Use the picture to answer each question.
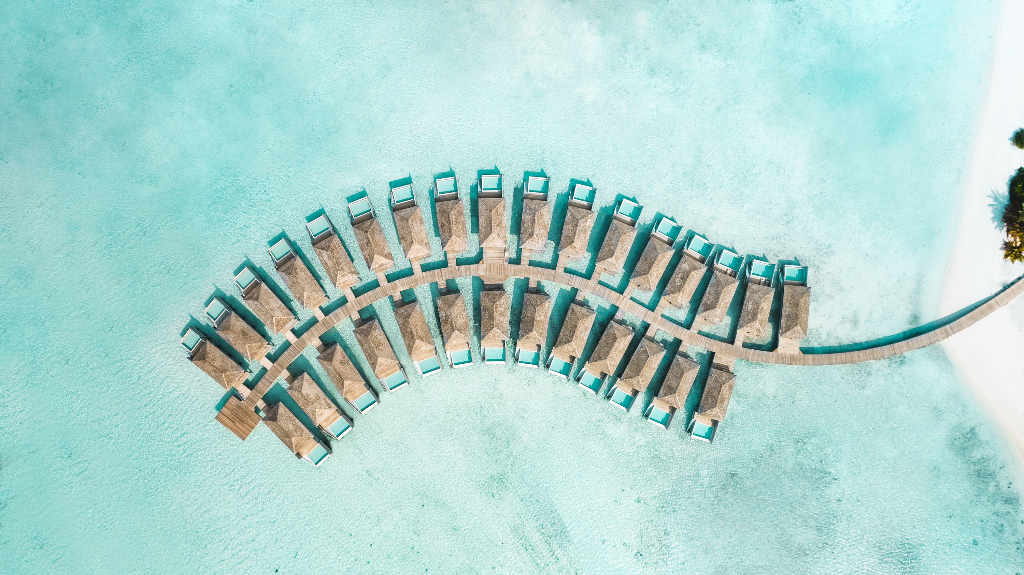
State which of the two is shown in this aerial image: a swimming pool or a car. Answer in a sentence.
The image shows a swimming pool.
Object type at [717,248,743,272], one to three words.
swimming pool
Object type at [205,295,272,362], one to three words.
house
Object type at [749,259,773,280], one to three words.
swimming pool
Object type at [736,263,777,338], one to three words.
house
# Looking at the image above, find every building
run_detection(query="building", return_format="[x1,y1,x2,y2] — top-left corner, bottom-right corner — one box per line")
[558,186,597,262]
[687,363,737,445]
[608,334,666,413]
[546,299,596,380]
[205,295,272,362]
[180,326,249,391]
[577,317,634,397]
[261,401,333,467]
[514,288,551,369]
[480,275,508,365]
[595,201,645,276]
[736,263,777,338]
[285,372,354,439]
[659,237,717,311]
[233,265,298,335]
[390,183,431,263]
[353,319,410,390]
[437,291,474,366]
[434,175,468,255]
[777,264,810,340]
[644,350,700,431]
[695,251,746,327]
[394,301,443,375]
[347,195,394,274]
[520,177,550,254]
[629,220,684,294]
[478,174,506,252]
[270,236,328,311]
[306,213,360,291]
[316,343,380,413]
